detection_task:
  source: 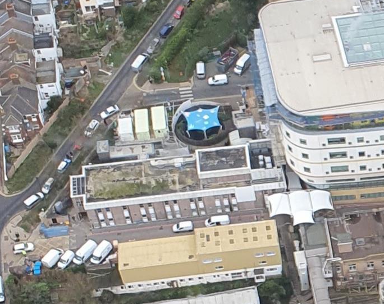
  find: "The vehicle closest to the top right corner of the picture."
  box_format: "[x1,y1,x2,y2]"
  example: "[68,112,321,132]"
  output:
[235,52,250,72]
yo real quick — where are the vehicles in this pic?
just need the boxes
[131,54,149,70]
[159,24,174,37]
[21,191,46,209]
[57,158,74,172]
[91,238,112,262]
[14,244,33,254]
[208,214,227,226]
[41,246,65,268]
[83,121,99,136]
[172,7,184,19]
[235,52,250,72]
[41,178,55,193]
[147,41,160,52]
[57,249,76,268]
[196,64,205,77]
[173,219,193,232]
[210,74,227,86]
[101,105,120,117]
[74,238,95,262]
